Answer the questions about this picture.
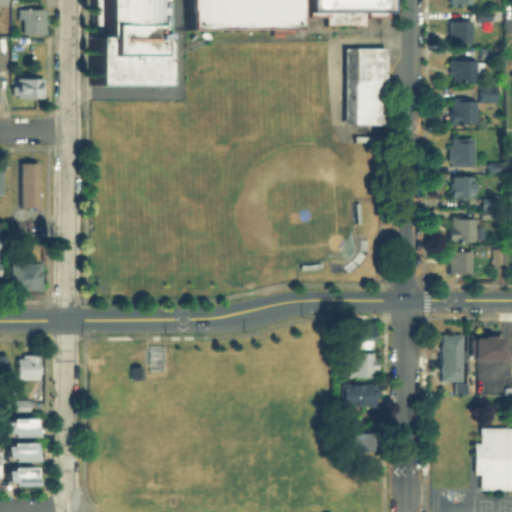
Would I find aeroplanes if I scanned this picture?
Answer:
No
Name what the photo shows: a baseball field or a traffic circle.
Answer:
baseball field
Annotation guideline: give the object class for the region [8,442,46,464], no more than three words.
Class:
house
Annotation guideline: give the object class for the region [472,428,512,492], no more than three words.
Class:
building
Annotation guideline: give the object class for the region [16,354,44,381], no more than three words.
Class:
house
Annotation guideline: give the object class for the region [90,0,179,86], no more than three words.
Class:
building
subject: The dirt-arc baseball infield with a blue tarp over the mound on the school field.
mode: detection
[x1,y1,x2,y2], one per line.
[232,143,346,256]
